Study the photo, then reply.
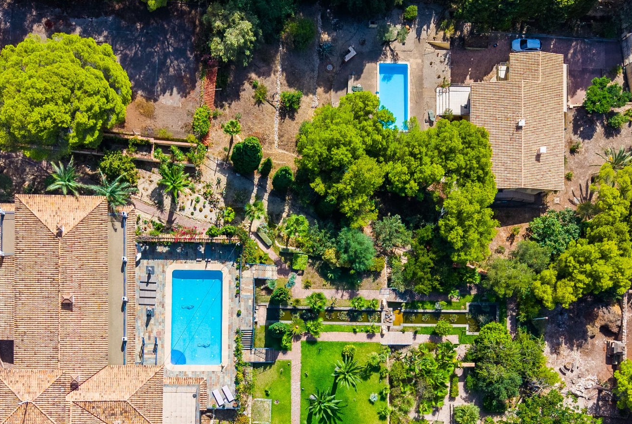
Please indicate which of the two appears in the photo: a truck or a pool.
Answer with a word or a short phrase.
pool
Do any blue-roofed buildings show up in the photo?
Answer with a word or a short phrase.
No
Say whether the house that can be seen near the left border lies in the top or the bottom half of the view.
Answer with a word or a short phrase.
bottom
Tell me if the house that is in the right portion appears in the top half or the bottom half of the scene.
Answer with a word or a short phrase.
top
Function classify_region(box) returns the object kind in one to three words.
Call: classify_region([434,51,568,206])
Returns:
house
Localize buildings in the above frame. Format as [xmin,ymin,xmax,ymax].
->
[434,51,568,206]
[0,193,207,424]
